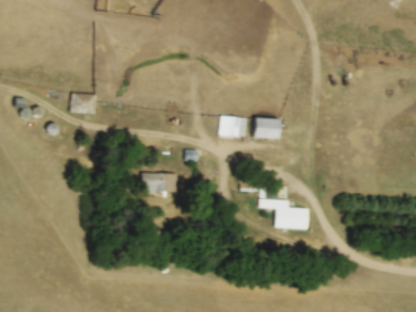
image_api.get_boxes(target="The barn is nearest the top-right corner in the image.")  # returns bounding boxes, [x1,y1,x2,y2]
[253,118,283,140]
